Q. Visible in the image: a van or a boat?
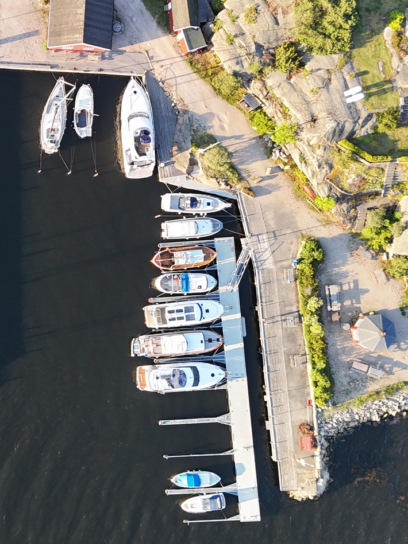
boat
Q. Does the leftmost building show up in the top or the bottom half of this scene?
top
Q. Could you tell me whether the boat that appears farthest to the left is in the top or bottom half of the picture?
top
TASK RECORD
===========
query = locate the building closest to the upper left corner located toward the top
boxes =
[47,0,114,54]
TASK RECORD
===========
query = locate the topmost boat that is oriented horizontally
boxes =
[155,187,242,219]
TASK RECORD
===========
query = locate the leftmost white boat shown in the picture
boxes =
[40,71,73,171]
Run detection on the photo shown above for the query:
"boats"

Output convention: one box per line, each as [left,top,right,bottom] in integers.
[139,295,228,327]
[179,490,227,514]
[129,326,225,358]
[132,362,231,393]
[40,71,73,171]
[155,216,242,240]
[155,187,242,219]
[167,466,222,488]
[150,245,217,270]
[118,72,156,184]
[70,85,96,171]
[153,269,217,296]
